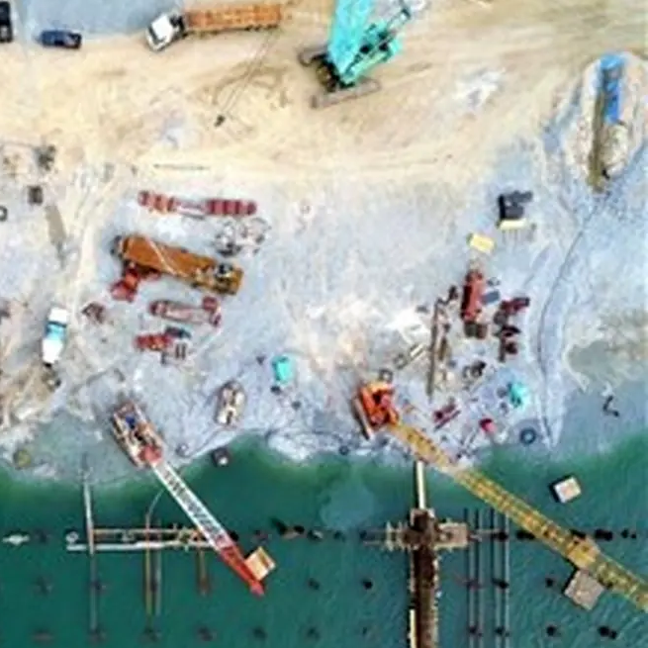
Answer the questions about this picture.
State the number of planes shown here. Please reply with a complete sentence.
Not a single plane can be seen.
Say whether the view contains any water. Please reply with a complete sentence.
Yes, water can be seen from above here.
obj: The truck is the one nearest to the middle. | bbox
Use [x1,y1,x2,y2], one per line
[214,383,246,424]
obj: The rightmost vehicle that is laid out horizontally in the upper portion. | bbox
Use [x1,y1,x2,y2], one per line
[151,0,286,43]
